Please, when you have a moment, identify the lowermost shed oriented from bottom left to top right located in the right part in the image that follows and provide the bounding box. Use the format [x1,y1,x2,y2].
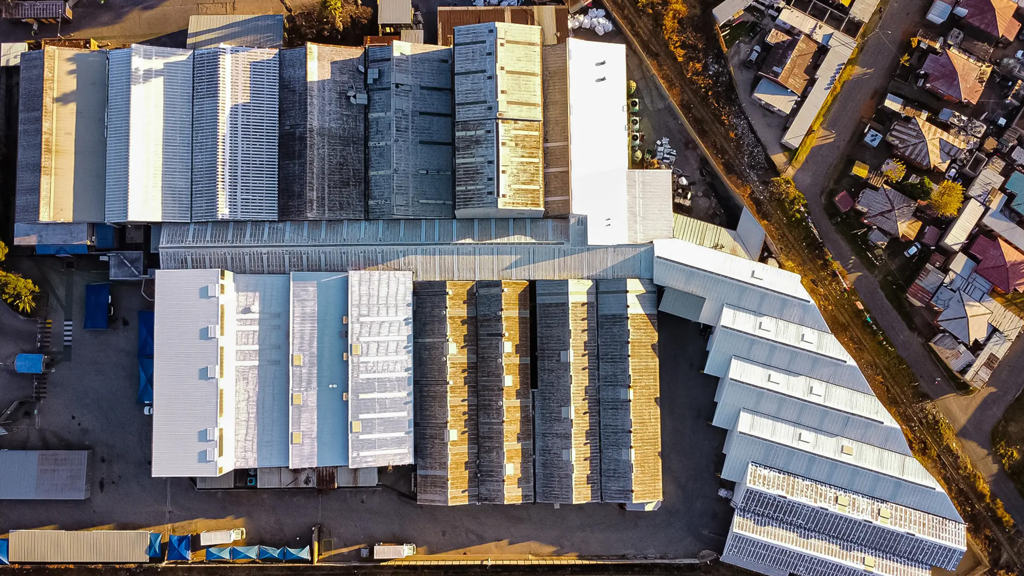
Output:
[958,336,1012,387]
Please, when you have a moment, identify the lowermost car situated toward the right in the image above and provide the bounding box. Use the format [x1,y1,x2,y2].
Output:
[903,240,924,258]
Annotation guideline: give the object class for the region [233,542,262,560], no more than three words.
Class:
tent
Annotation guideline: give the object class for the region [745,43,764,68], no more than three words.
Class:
car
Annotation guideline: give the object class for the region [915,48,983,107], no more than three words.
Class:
house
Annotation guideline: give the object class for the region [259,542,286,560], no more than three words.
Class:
tent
